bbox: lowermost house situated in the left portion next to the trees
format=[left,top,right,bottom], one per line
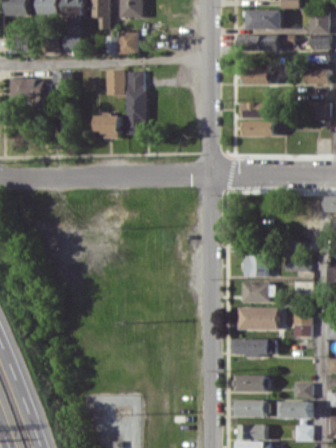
[93,114,122,136]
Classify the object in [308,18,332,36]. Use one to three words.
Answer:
building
